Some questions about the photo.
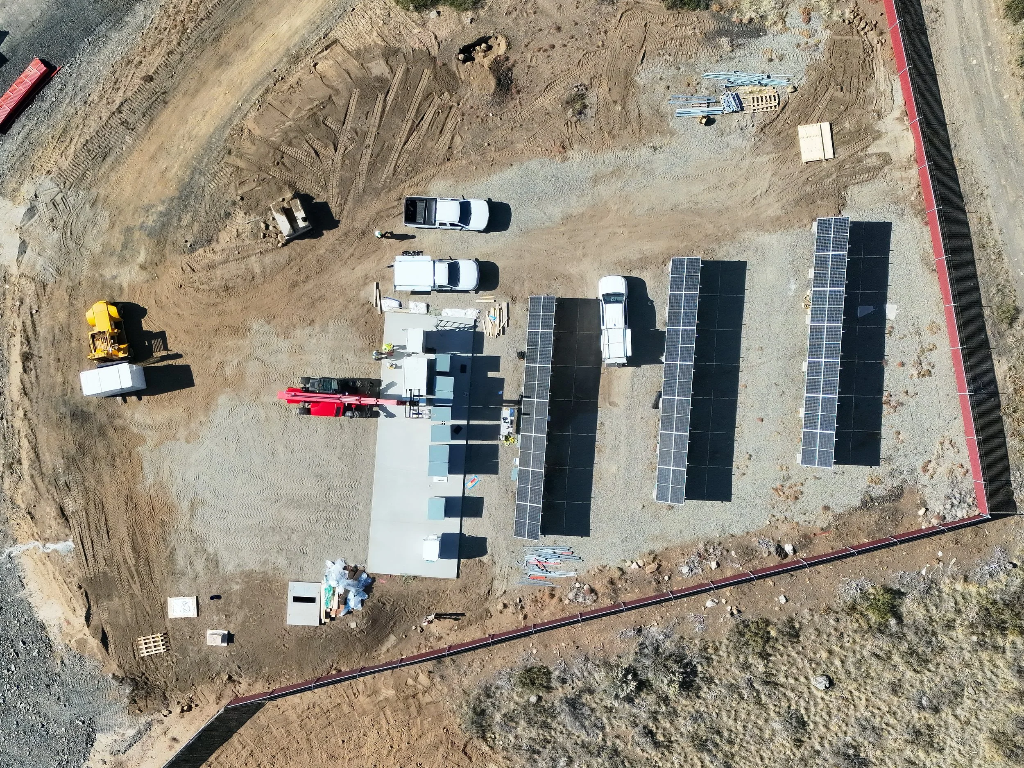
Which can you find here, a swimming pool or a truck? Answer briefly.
truck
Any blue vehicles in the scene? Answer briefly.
No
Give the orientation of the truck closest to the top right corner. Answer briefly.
vertically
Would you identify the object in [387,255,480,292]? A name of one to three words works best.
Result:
truck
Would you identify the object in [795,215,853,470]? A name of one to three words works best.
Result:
solar array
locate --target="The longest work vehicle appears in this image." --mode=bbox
[275,376,431,422]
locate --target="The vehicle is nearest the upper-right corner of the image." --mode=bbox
[595,278,635,370]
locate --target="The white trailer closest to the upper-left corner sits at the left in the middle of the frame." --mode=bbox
[80,363,145,401]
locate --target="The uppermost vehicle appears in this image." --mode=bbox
[403,193,491,231]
